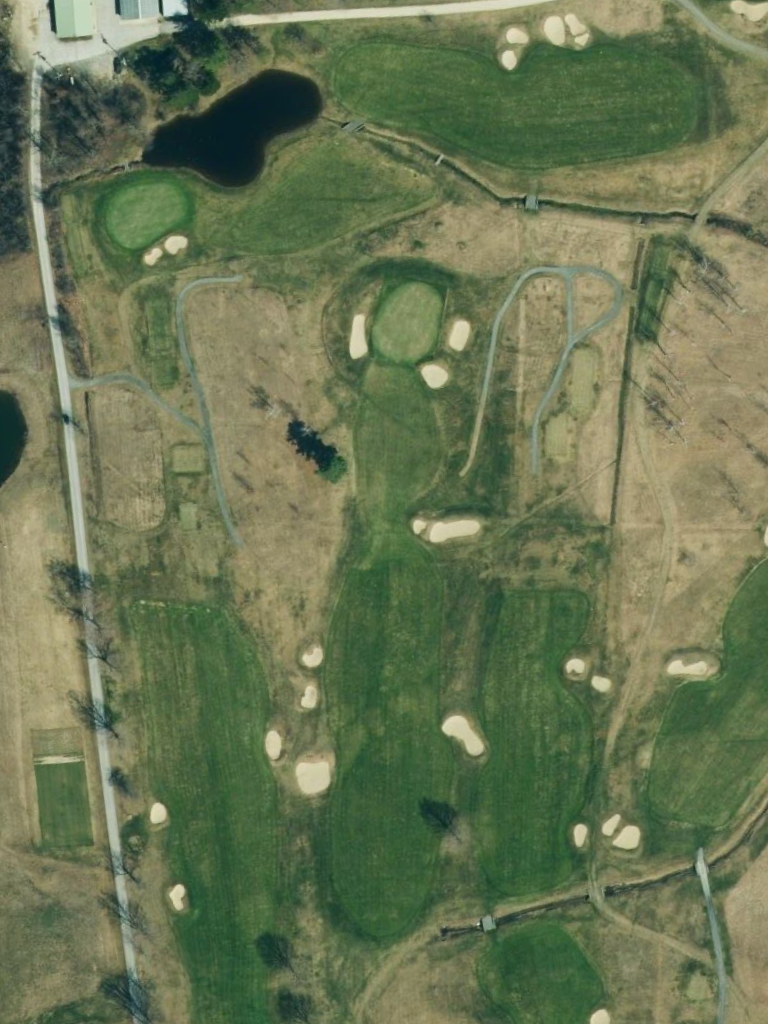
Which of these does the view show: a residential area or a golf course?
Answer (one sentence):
The picture captures a golf course.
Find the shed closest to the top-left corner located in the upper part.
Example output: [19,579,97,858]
[54,0,92,39]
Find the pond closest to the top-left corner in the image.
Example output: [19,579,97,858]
[141,68,322,188]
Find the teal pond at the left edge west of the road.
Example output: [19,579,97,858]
[0,390,28,483]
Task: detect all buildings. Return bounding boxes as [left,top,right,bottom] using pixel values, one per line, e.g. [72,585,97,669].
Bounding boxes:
[54,0,92,39]
[161,0,186,16]
[119,0,158,21]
